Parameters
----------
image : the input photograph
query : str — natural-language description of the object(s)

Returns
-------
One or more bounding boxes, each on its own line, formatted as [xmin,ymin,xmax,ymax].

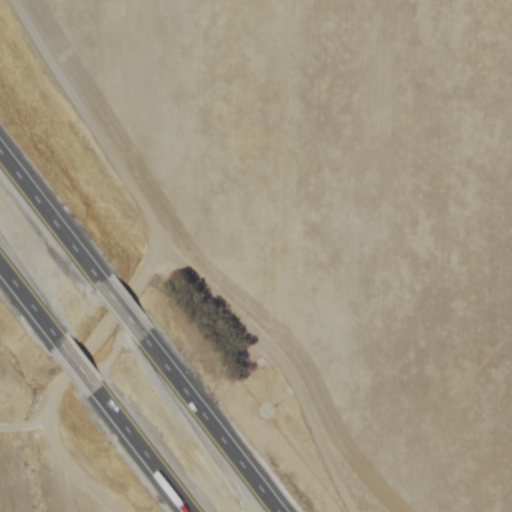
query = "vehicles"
[188,403,198,414]
[108,401,118,412]
[154,472,189,512]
